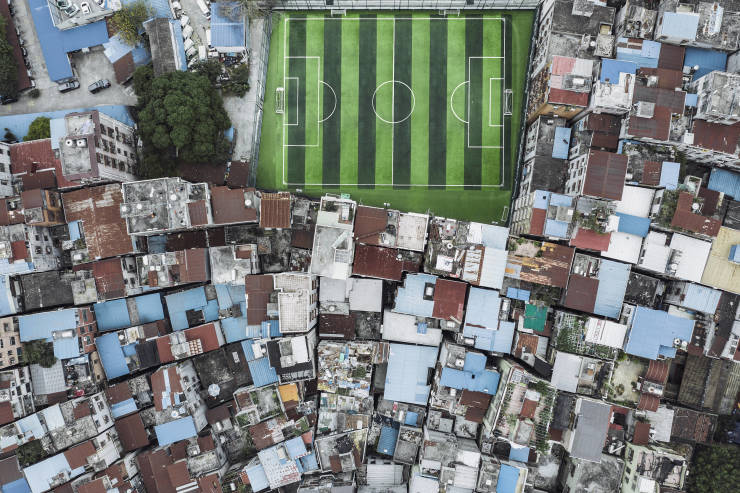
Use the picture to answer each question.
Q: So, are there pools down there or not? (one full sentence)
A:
No, the picture doesn't show any pool.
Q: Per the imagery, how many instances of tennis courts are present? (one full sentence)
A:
I count no tennis courts.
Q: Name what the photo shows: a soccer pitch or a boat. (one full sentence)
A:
Of the two, only a soccer pitch appears.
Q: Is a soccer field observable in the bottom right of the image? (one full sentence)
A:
No, no soccer field appears in the bottom right of the image.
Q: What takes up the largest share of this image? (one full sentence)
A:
The scene is dominated by buildings.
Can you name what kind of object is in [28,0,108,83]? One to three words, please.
shed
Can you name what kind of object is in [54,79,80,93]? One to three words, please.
vehicle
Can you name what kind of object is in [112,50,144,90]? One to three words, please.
shed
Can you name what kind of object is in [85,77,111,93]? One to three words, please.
car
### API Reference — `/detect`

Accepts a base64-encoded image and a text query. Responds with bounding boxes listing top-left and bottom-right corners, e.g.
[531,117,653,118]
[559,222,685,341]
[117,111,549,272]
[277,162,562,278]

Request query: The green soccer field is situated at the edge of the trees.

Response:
[252,9,539,226]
